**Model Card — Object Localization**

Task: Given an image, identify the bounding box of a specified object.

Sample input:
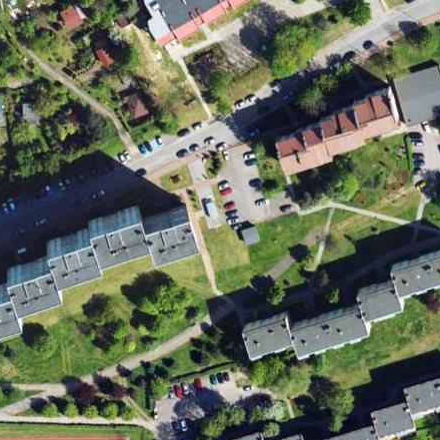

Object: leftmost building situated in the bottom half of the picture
[0,209,199,340]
